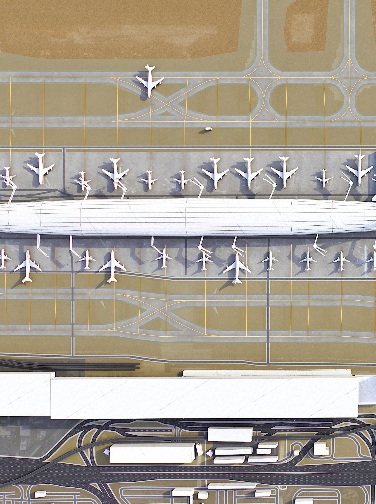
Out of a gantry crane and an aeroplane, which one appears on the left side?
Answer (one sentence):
It is an aeroplane that can be seen on the left side.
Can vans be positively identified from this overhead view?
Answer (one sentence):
No, the frame has no van in it.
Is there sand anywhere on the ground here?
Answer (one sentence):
Yes, sand shows up in the scene.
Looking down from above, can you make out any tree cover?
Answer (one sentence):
No, the picture contains no tree cover.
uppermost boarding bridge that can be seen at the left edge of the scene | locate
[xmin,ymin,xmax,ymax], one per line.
[3,176,23,204]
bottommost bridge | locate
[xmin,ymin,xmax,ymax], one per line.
[0,435,208,487]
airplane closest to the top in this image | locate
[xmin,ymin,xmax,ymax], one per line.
[135,65,163,98]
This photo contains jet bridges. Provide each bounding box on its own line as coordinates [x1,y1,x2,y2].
[191,176,206,199]
[70,235,86,258]
[231,236,248,257]
[113,178,131,200]
[76,177,95,200]
[152,236,167,255]
[313,234,328,256]
[263,174,278,199]
[339,173,354,201]
[198,236,214,258]
[3,176,23,204]
[38,234,56,257]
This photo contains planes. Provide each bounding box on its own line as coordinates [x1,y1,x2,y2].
[222,252,250,284]
[201,157,229,189]
[101,157,129,189]
[300,251,317,271]
[270,156,298,188]
[315,169,333,188]
[97,250,126,283]
[155,249,173,269]
[346,154,374,186]
[78,250,96,270]
[0,249,12,269]
[262,250,280,271]
[333,251,351,270]
[173,170,192,189]
[135,65,163,98]
[25,152,53,185]
[235,157,263,189]
[366,251,376,270]
[12,250,41,283]
[195,251,213,270]
[140,169,158,190]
